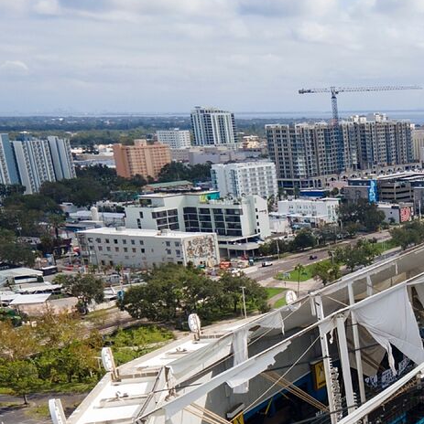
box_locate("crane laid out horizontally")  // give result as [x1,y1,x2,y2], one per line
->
[294,83,420,137]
